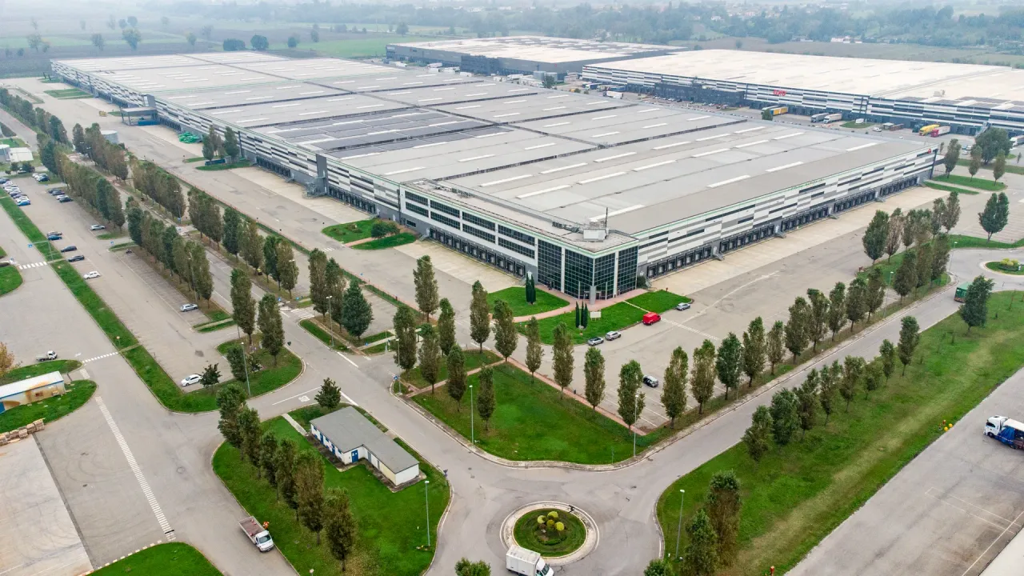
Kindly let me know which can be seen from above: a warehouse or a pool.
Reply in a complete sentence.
This aerial view contains a warehouse.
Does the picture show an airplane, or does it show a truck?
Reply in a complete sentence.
This aerial view contains a truck.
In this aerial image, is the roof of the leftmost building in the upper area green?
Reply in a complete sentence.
No, the color of the roof of the leftmost building in the upper area is white.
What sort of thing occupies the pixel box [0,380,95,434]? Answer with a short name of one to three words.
shed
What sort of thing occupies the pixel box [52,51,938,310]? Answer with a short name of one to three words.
warehouse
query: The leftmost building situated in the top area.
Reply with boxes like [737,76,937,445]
[9,148,35,173]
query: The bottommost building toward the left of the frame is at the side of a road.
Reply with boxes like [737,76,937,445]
[306,408,418,487]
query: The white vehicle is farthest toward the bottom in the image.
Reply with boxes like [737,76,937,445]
[507,541,554,576]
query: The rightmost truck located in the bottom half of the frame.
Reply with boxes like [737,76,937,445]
[982,421,1024,447]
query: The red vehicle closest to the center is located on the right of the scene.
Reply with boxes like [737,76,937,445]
[641,311,663,324]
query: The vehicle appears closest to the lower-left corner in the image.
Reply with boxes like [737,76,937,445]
[33,346,59,360]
